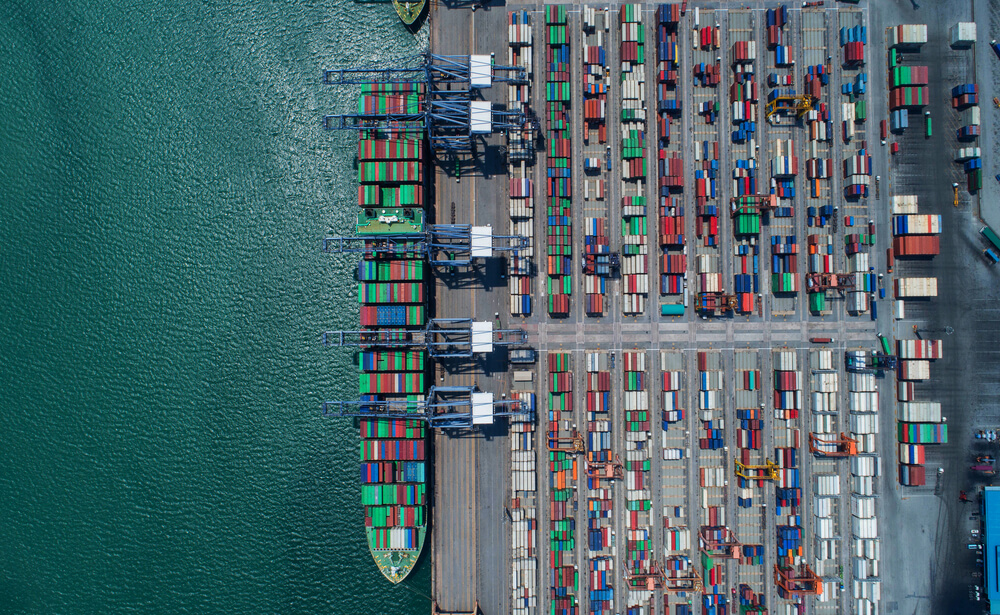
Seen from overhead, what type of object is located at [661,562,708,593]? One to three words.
container crane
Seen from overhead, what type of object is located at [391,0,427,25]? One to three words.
ship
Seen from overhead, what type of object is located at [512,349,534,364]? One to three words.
building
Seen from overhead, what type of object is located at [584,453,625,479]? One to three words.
container crane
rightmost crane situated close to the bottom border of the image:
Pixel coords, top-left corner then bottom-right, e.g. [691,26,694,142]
[774,563,825,594]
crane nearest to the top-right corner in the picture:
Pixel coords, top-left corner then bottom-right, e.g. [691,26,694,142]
[765,96,815,123]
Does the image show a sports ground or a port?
port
